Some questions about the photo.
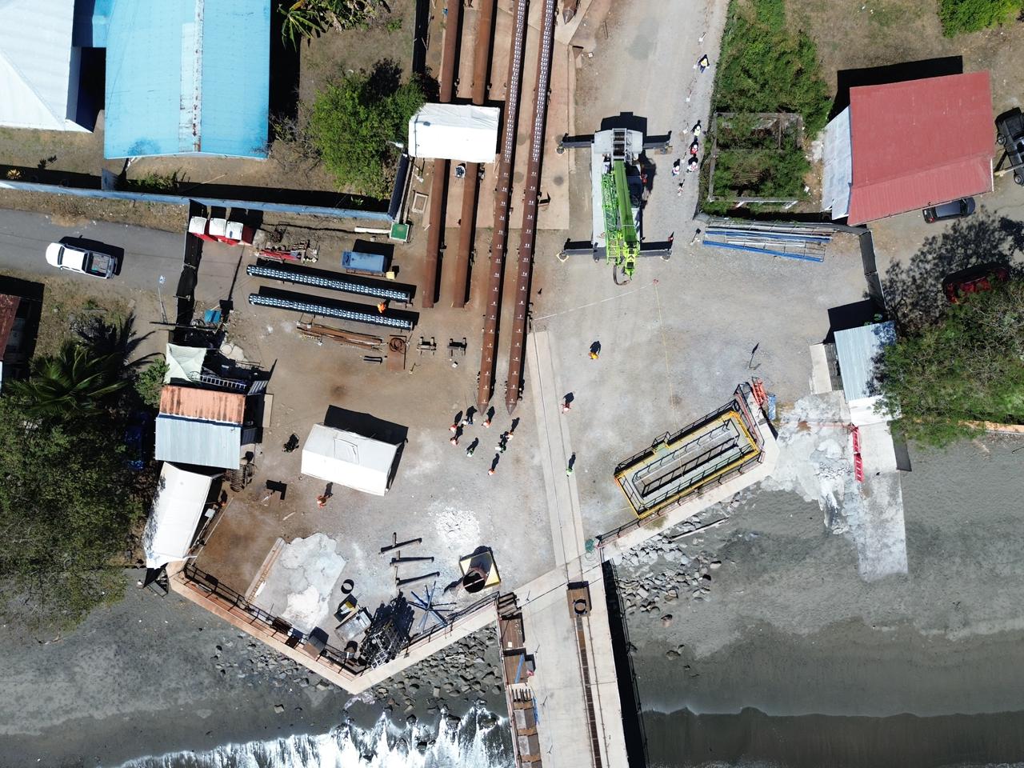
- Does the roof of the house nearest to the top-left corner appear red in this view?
No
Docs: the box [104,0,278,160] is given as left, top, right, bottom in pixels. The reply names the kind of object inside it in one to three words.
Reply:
house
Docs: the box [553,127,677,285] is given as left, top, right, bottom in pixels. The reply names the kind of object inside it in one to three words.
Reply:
crane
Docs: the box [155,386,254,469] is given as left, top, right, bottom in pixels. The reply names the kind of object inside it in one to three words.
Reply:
shed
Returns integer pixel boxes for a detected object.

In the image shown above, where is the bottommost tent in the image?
[145,461,227,569]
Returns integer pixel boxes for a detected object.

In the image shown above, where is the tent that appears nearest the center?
[302,423,401,495]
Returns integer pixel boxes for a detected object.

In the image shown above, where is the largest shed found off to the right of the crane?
[825,71,995,230]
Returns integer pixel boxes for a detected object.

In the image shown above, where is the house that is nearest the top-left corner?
[0,0,94,133]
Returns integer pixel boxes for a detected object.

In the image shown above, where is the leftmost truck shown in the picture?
[46,238,123,282]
